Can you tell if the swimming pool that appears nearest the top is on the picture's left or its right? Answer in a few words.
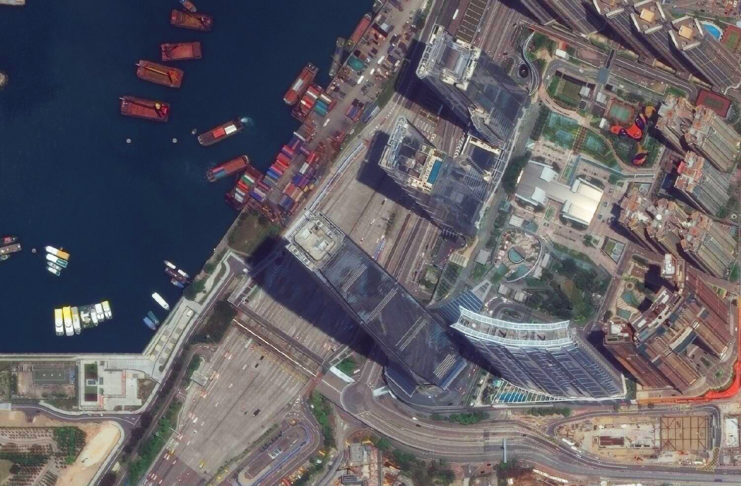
right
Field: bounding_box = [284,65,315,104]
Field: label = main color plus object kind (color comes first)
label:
red ship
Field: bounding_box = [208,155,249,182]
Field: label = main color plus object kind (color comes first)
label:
red ship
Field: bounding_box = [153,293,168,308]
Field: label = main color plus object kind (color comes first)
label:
white boat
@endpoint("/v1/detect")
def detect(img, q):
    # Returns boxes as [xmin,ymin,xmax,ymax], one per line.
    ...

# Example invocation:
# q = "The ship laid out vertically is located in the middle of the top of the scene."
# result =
[329,39,344,76]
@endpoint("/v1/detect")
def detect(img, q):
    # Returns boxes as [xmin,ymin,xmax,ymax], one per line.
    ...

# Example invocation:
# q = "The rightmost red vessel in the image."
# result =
[344,14,372,54]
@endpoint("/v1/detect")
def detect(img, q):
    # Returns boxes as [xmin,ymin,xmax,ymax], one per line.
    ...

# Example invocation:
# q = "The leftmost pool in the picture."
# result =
[427,160,442,184]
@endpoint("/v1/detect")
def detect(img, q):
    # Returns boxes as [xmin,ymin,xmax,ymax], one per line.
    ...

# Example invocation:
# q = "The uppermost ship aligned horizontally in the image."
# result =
[172,10,213,31]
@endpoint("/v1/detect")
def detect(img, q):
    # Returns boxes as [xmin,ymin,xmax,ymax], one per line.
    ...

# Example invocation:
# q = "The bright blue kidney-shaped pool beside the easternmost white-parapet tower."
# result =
[701,21,724,42]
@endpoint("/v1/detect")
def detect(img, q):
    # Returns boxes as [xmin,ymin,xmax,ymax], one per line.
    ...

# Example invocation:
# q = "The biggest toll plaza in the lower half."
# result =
[238,286,340,368]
